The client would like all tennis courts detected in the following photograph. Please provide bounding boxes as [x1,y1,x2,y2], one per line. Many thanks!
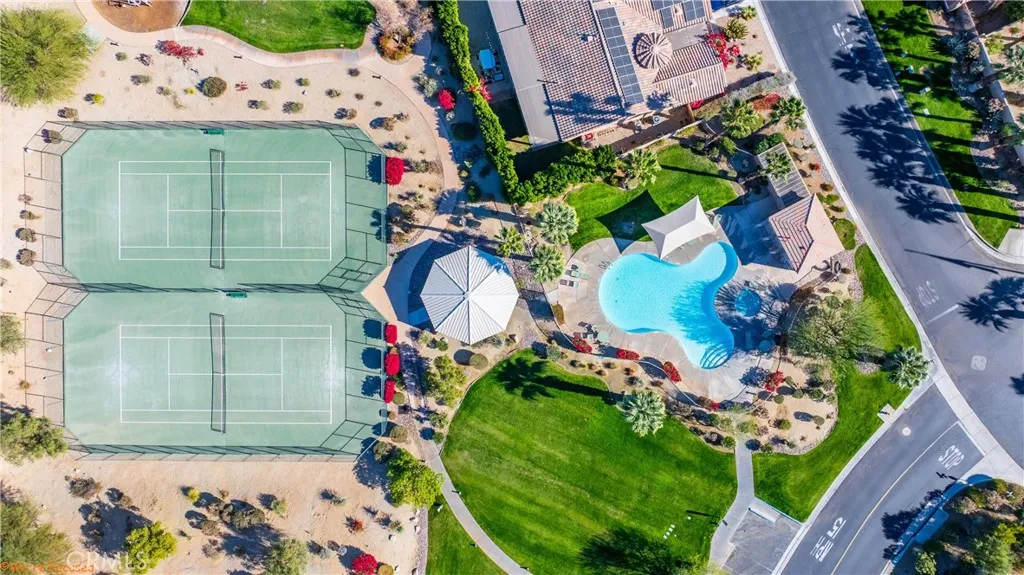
[62,128,385,291]
[64,291,385,454]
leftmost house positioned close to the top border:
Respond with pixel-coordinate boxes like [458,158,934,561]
[487,0,730,149]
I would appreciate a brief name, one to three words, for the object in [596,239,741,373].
swimming pool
